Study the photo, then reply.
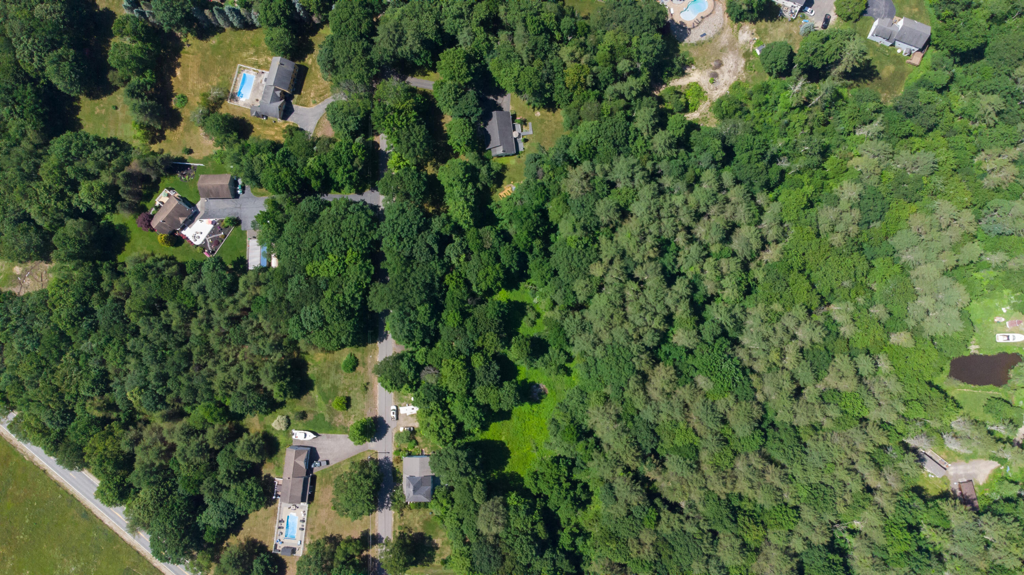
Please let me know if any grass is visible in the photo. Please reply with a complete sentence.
Yes, the picture does contain grass.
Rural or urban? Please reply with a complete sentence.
The land in this view is best described as rural.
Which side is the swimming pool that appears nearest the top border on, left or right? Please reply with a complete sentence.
The swimming pool that appears nearest the top border is on the right side of the image.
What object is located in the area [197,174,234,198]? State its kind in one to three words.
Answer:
building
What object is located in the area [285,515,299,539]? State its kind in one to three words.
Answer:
swimming pool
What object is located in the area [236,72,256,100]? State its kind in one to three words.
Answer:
swimming pool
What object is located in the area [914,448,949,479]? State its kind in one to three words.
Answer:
house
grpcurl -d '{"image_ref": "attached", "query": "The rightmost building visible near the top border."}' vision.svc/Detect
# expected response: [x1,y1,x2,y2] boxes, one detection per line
[868,16,931,67]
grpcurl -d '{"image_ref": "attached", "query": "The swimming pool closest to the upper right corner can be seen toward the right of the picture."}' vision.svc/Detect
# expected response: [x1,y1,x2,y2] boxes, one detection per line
[680,0,709,21]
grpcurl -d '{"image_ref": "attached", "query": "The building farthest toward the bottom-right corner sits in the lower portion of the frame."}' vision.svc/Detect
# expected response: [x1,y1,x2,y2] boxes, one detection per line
[955,477,980,512]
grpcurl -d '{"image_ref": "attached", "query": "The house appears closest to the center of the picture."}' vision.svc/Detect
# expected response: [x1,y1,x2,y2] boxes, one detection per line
[482,110,533,157]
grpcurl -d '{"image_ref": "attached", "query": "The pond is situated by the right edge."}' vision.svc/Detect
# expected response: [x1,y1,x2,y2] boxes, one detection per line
[950,352,1019,386]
